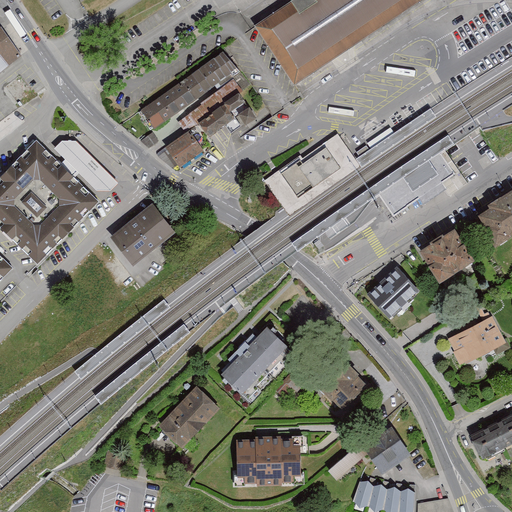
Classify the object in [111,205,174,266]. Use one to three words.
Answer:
house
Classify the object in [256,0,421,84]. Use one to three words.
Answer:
building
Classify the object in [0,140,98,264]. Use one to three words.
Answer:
building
